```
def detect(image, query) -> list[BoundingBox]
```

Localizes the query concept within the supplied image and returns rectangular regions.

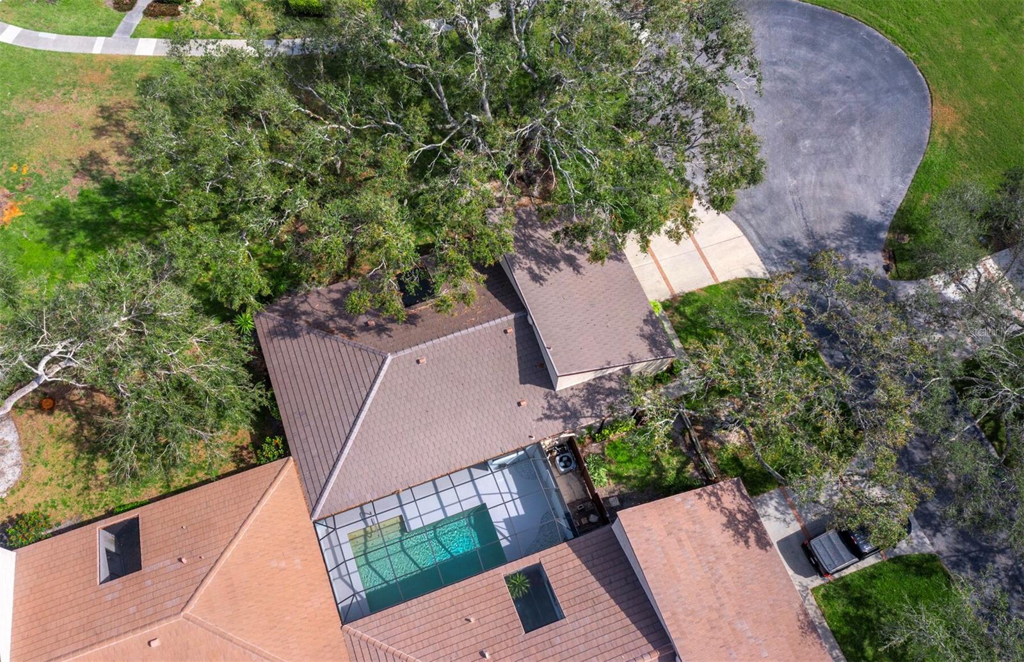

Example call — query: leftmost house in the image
[0,455,353,662]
